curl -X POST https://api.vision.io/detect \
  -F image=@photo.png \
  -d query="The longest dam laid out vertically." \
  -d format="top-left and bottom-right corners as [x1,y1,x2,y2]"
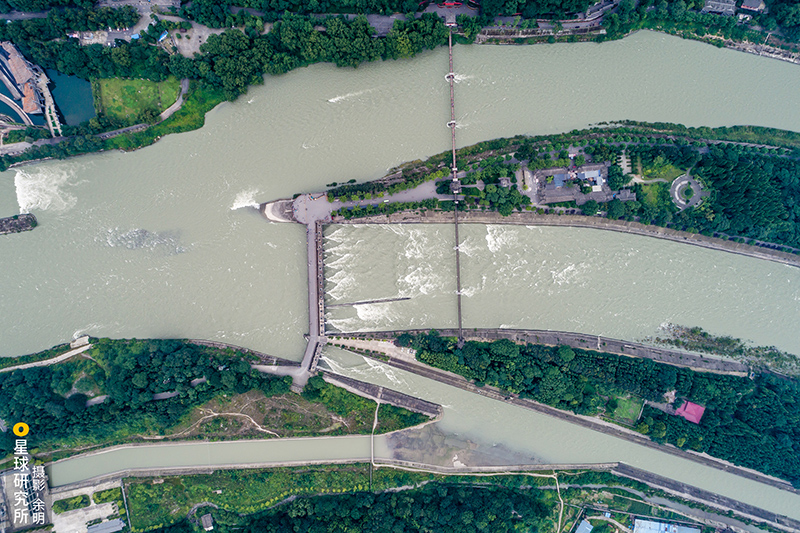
[308,219,328,337]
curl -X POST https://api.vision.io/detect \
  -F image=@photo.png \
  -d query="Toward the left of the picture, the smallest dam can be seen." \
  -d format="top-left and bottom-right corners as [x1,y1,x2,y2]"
[298,334,327,373]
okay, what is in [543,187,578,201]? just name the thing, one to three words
building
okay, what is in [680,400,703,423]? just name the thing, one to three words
house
